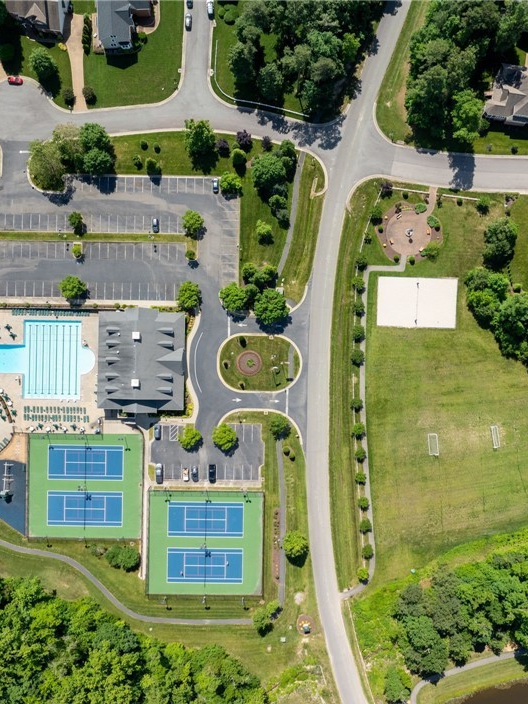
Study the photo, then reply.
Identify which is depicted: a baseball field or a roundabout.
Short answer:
roundabout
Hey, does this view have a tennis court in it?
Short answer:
Yes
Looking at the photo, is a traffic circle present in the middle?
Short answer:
Yes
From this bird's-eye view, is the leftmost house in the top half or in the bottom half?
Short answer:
top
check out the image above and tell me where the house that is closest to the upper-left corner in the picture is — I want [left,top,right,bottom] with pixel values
[5,0,65,40]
